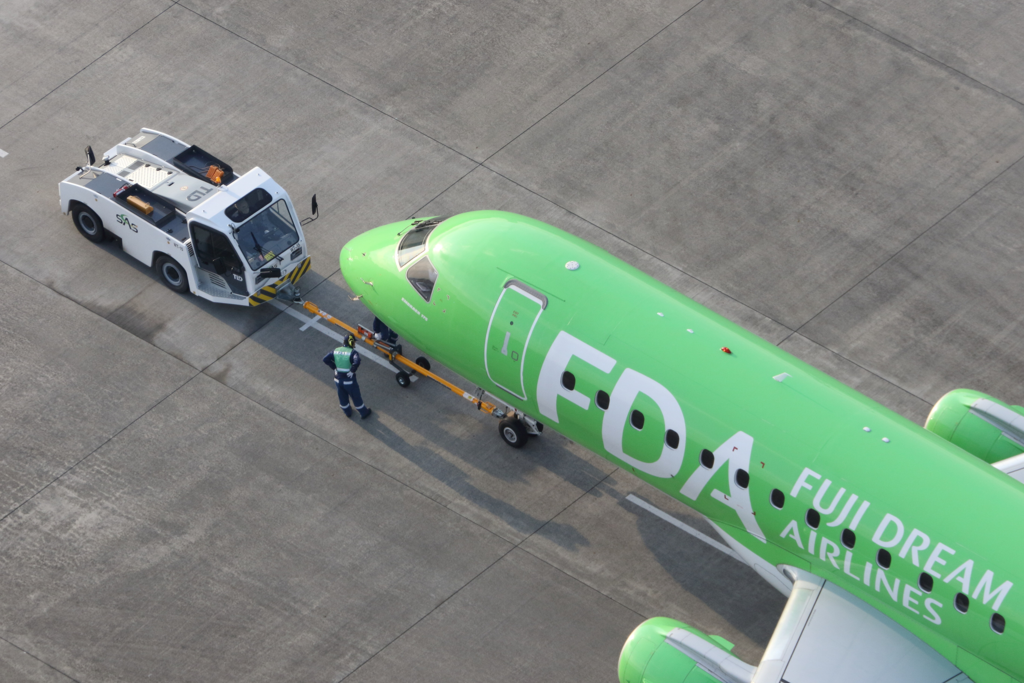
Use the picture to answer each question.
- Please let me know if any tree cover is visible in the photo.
No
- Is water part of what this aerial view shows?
No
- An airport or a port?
airport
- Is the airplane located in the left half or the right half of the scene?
right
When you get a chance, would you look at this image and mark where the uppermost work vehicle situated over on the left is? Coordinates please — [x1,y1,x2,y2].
[61,130,319,309]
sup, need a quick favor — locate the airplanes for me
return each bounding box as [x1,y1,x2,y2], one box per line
[340,209,1024,683]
